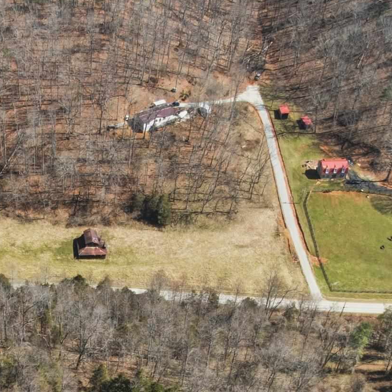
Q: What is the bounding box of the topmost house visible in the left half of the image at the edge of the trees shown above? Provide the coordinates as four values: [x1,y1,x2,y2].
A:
[129,99,179,134]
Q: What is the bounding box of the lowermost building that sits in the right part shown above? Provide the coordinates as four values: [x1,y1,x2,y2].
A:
[301,155,349,180]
